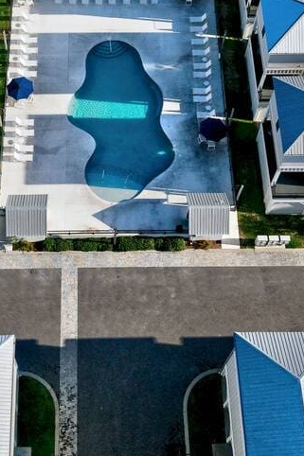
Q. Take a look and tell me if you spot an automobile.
No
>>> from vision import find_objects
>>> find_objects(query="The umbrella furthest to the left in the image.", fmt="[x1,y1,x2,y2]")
[7,77,32,101]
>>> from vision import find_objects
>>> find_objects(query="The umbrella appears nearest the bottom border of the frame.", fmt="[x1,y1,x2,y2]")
[199,117,226,141]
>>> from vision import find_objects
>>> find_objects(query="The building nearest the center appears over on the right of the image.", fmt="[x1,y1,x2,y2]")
[183,192,231,248]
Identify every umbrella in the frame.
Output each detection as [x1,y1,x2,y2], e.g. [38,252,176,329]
[199,117,226,141]
[7,77,32,101]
